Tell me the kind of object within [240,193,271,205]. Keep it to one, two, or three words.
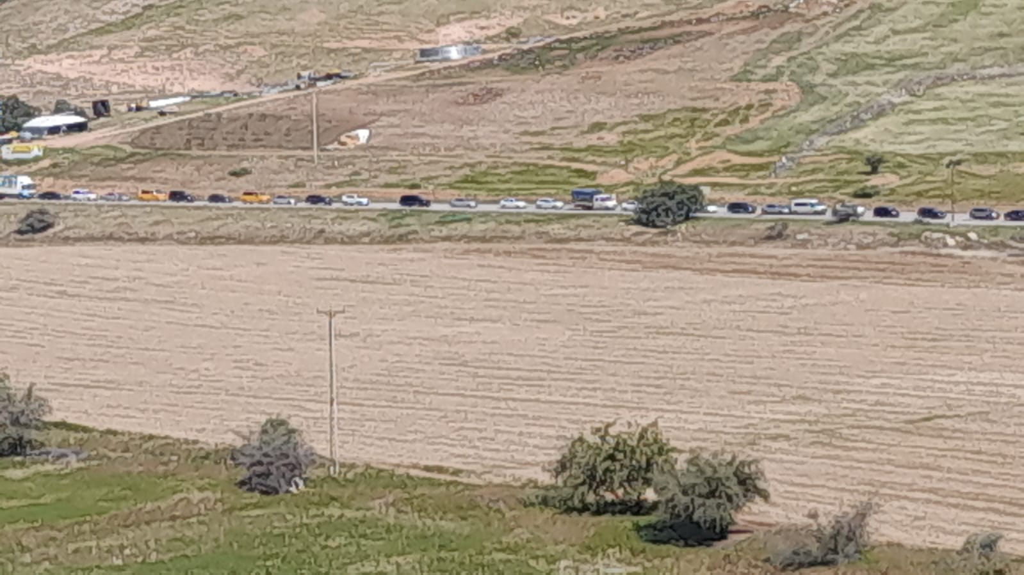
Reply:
vehicle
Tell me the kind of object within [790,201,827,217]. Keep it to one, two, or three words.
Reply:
vehicle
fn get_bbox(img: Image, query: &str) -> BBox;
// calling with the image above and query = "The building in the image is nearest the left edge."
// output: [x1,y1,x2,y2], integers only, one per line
[20,113,92,136]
